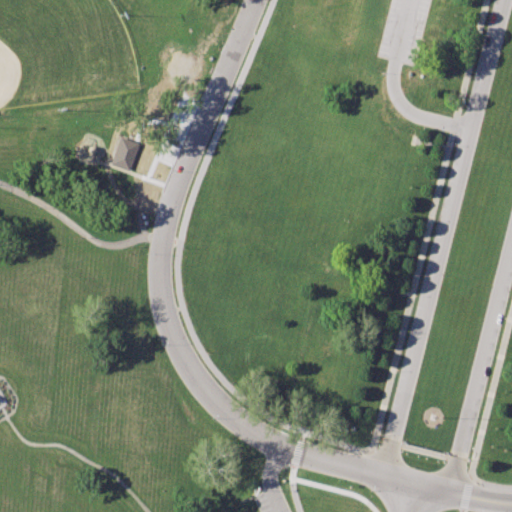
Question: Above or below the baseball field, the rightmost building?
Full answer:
Within the scene, the rightmost building can be found below the baseball field.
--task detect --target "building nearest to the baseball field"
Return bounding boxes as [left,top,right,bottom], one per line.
[112,136,140,170]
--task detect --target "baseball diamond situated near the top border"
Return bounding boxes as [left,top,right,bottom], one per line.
[0,0,140,111]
